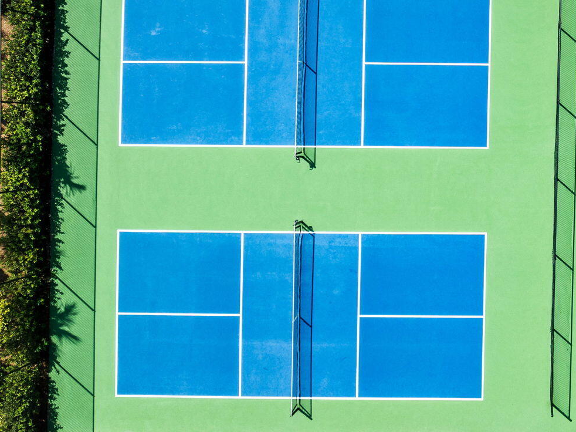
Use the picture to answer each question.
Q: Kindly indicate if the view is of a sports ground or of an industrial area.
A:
sports ground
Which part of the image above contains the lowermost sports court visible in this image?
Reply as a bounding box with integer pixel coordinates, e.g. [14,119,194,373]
[115,230,484,400]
